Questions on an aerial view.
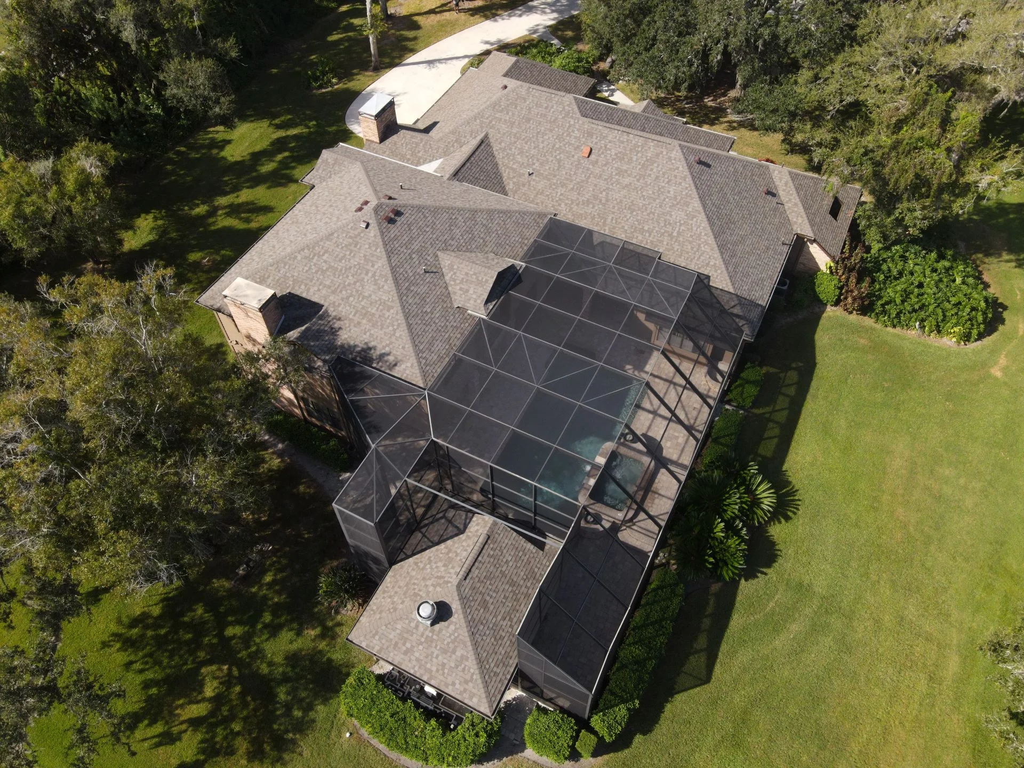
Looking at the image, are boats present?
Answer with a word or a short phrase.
No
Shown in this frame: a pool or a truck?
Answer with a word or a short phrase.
pool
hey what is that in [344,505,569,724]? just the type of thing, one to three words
building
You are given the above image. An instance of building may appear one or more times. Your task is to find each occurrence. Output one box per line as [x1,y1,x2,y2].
[195,53,863,455]
[344,505,569,724]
